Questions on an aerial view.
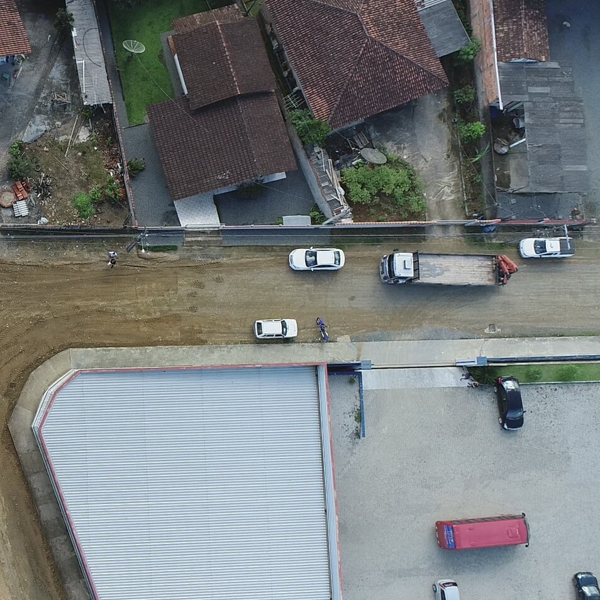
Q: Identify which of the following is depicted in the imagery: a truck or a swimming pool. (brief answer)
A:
truck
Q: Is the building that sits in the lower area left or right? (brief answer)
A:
left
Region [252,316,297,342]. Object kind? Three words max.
car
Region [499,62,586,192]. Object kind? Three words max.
shed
